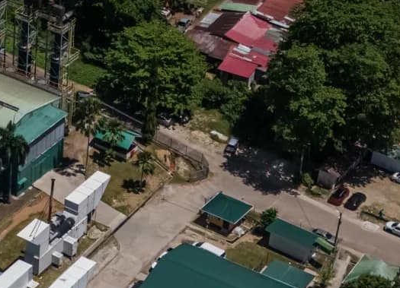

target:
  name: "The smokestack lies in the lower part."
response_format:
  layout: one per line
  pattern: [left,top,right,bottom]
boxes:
[40,177,60,224]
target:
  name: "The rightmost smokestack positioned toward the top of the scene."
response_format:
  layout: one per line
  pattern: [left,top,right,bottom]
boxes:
[49,6,87,90]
